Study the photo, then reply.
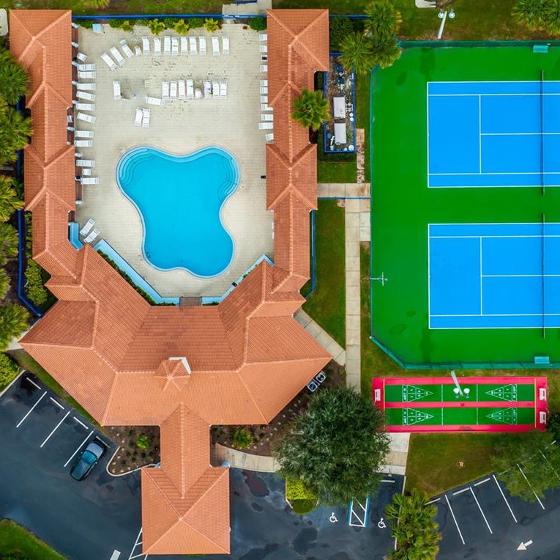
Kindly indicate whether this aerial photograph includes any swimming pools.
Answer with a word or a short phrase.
Yes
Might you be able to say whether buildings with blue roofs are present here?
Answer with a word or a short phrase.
No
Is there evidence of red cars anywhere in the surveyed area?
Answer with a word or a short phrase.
No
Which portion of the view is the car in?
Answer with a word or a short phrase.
bottom left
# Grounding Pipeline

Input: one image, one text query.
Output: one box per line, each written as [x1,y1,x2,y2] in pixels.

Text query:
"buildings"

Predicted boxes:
[8,8,331,555]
